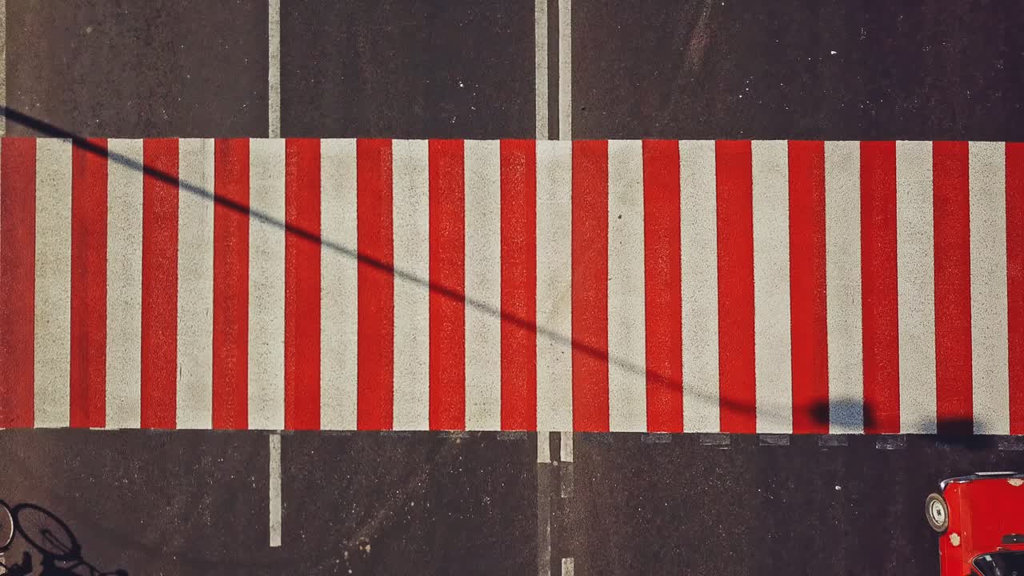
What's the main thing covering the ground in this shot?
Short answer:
paved ground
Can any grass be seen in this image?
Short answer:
No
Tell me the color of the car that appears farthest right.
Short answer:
red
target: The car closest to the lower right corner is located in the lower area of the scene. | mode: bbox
[925,471,1024,576]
